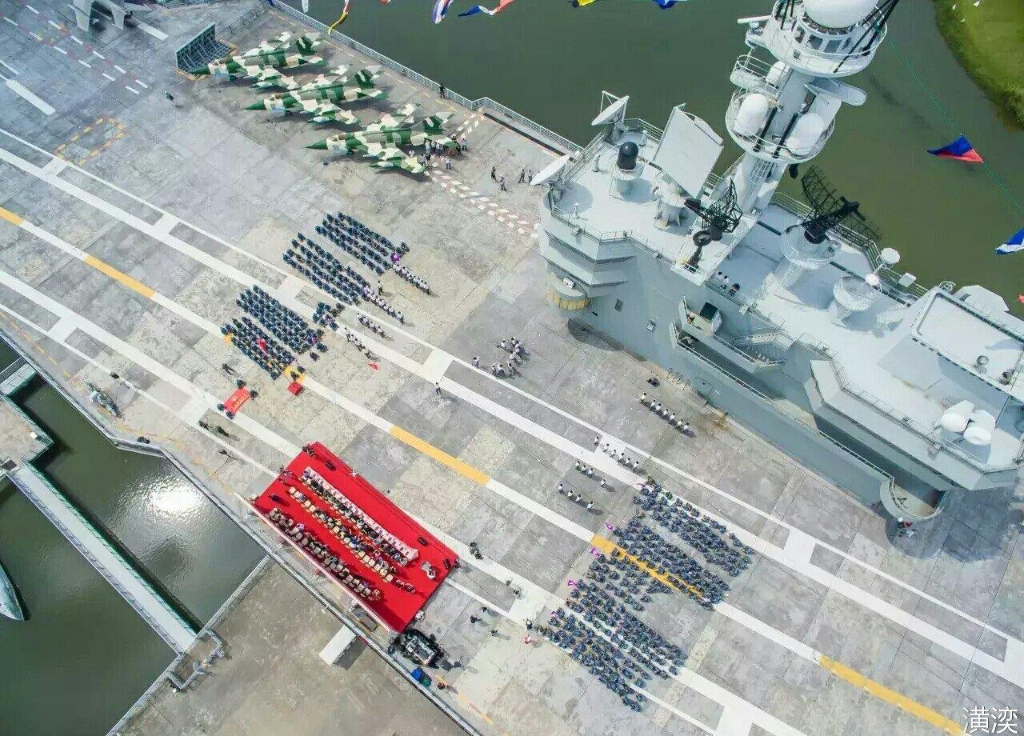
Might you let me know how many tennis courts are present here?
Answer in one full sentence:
Not a single tennis court can be seen.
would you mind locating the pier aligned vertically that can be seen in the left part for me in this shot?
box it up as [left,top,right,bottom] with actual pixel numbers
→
[0,358,66,493]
